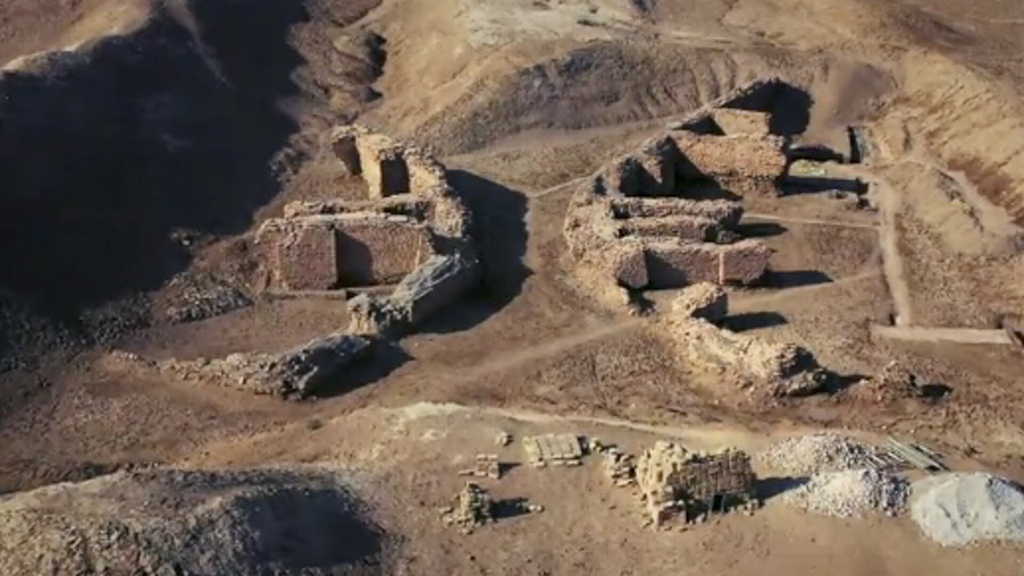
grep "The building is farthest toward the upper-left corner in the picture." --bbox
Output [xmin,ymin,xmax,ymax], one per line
[253,124,497,335]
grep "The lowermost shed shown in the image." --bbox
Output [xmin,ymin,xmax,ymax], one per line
[680,448,764,513]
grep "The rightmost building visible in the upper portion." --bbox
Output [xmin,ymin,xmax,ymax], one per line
[517,79,787,330]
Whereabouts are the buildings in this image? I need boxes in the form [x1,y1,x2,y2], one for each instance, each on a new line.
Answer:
[517,79,787,330]
[680,448,764,513]
[253,124,497,335]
